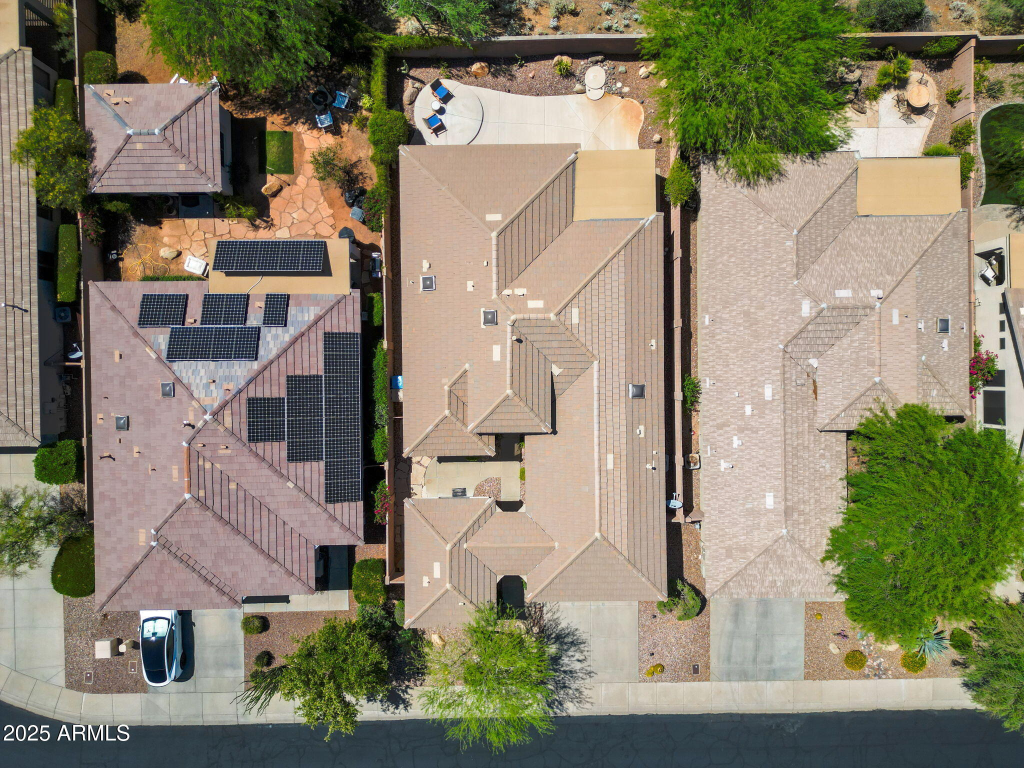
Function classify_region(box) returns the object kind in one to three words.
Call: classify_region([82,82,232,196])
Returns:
house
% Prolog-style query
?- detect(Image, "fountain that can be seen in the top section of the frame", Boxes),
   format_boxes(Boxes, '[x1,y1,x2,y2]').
[585,70,605,104]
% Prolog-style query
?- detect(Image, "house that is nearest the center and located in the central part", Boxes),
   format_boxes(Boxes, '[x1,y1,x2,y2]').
[398,142,668,630]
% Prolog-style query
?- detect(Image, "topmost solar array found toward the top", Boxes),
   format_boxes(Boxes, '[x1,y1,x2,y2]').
[213,241,324,271]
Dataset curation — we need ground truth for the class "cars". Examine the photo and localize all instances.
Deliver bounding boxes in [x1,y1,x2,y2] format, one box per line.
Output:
[137,611,187,686]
